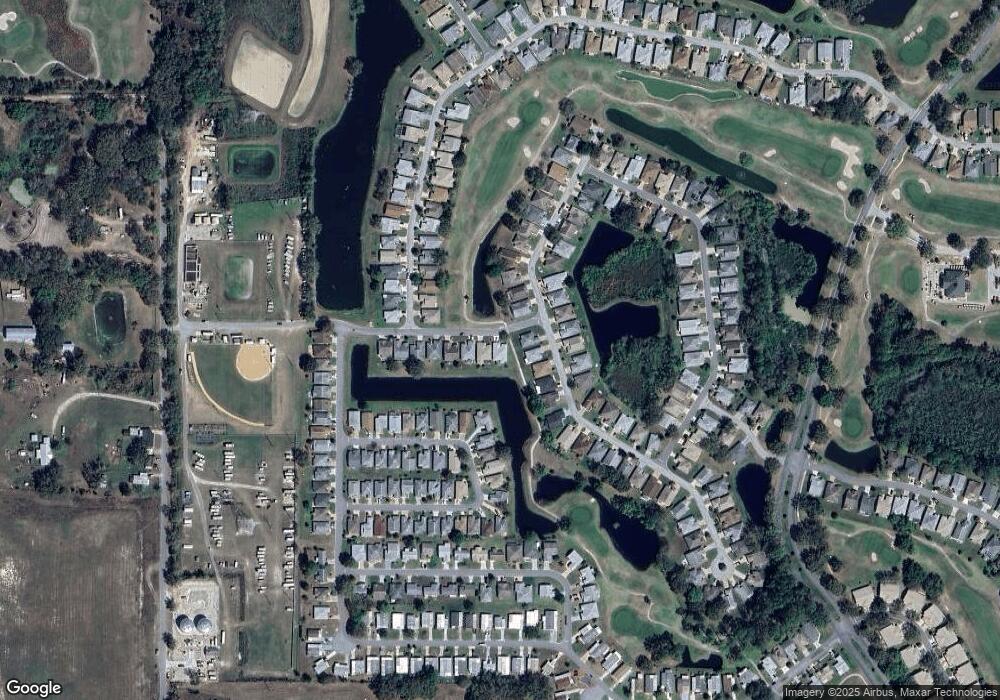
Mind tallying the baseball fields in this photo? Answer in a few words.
1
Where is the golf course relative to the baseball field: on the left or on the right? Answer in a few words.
to the right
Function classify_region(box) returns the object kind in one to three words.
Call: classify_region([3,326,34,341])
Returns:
shed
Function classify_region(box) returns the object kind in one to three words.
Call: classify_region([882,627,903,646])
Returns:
building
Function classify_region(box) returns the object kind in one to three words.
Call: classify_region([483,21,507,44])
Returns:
house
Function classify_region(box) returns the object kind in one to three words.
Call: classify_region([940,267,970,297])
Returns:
building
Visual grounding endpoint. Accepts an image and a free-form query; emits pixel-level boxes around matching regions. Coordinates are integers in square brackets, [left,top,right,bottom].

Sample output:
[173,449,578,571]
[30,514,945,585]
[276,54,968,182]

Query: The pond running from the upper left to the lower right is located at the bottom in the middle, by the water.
[534,475,663,569]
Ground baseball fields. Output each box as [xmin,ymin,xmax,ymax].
[190,345,274,427]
